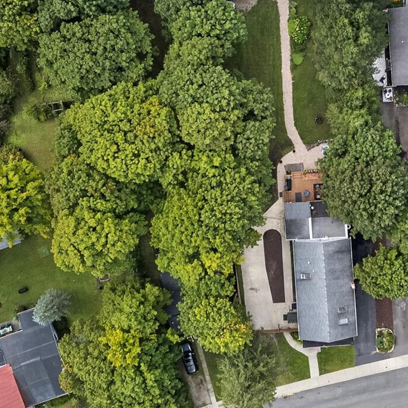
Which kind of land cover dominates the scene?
trees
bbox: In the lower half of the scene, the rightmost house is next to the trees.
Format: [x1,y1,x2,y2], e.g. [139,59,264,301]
[285,201,357,350]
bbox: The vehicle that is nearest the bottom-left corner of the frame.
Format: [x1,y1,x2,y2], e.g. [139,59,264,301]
[180,341,198,380]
